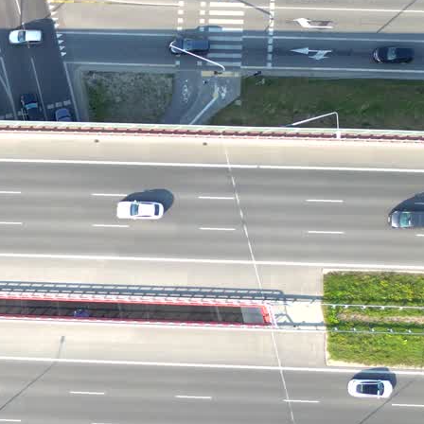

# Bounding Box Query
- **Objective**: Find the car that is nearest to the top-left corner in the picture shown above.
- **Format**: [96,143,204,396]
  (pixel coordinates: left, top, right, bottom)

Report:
[7,27,43,46]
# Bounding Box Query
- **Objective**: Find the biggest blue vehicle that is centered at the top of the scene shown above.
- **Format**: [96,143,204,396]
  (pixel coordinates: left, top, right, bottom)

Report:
[169,36,211,56]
